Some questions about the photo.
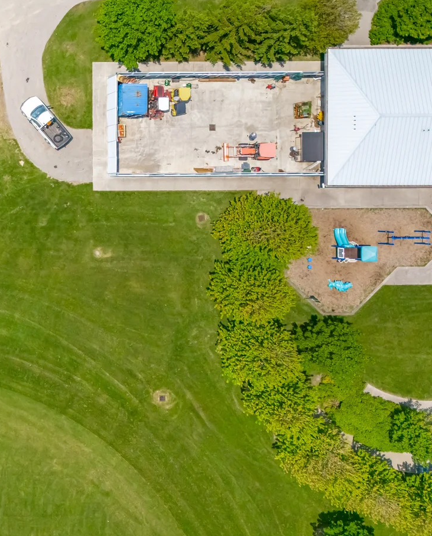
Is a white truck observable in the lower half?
No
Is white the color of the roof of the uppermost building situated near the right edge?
Yes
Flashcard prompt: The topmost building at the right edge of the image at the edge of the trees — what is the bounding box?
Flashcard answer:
[319,48,432,188]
